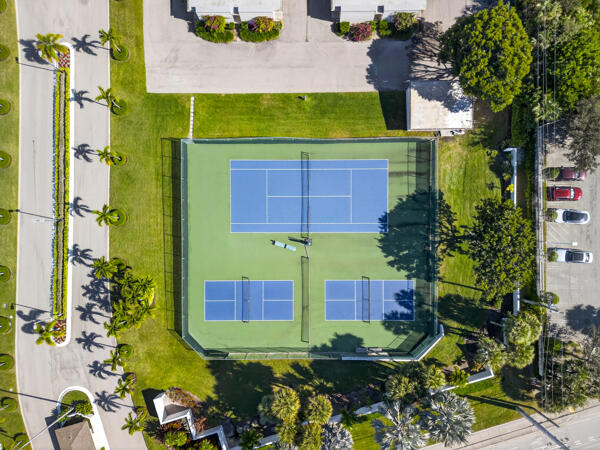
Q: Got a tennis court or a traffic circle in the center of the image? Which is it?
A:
tennis court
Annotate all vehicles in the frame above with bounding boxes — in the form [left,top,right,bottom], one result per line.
[550,168,581,182]
[555,209,589,224]
[556,248,590,263]
[551,185,581,200]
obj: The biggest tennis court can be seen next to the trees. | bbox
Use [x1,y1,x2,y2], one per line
[187,142,431,352]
